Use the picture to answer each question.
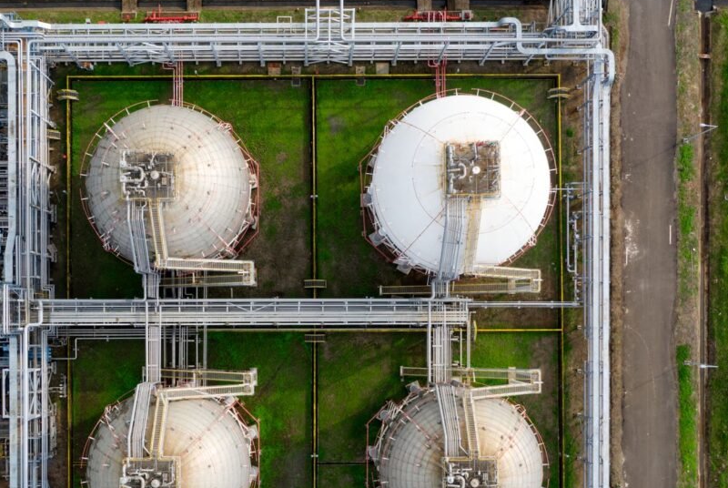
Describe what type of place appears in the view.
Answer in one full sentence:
What you see here is an industrial area.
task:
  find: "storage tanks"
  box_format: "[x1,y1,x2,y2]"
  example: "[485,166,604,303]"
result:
[76,96,262,280]
[365,374,551,488]
[359,86,560,283]
[77,374,263,488]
